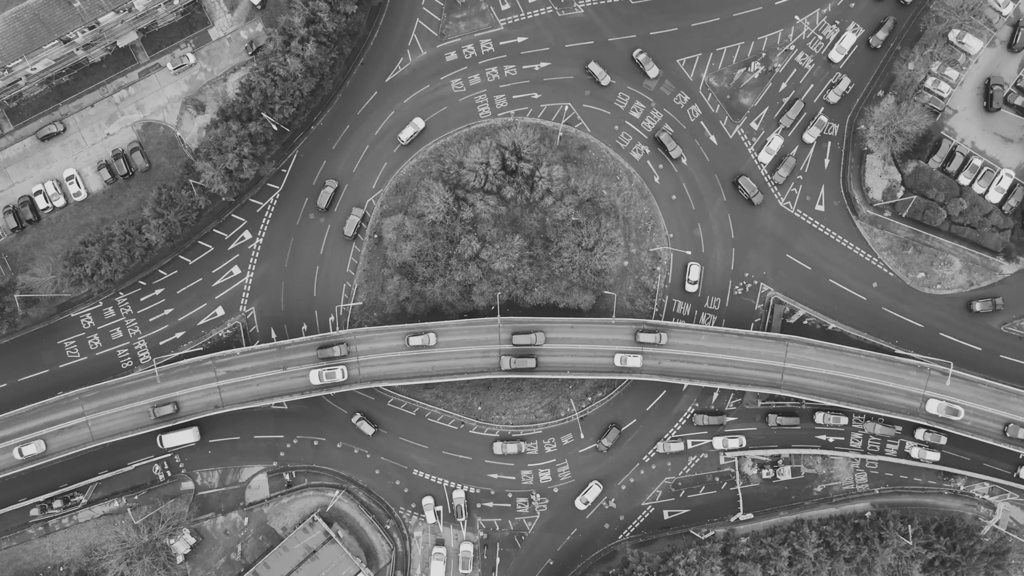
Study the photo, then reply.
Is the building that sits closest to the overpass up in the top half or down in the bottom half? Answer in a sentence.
It is in the bottom half that the building that sits closest to the overpass appears.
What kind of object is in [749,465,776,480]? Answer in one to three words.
work vehicle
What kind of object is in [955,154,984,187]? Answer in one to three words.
car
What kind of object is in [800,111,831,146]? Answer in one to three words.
car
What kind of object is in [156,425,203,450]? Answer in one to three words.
vehicle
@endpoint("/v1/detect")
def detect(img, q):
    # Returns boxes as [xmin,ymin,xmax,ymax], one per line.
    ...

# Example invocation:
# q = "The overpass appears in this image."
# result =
[0,316,1024,477]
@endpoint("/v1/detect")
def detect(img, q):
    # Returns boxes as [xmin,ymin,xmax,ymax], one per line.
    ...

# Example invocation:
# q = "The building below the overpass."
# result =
[244,509,380,576]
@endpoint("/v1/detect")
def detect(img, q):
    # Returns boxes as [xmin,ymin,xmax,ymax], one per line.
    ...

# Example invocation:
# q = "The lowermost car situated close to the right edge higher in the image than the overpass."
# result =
[966,295,1005,314]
